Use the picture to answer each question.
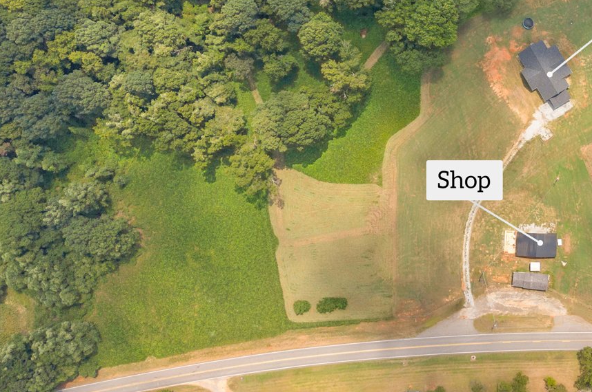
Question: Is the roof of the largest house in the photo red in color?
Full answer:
No, the color of the roof of the largest house is gray.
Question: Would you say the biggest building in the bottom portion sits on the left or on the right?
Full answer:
It is on the right.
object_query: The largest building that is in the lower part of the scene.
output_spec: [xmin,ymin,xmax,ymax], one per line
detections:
[515,233,556,260]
